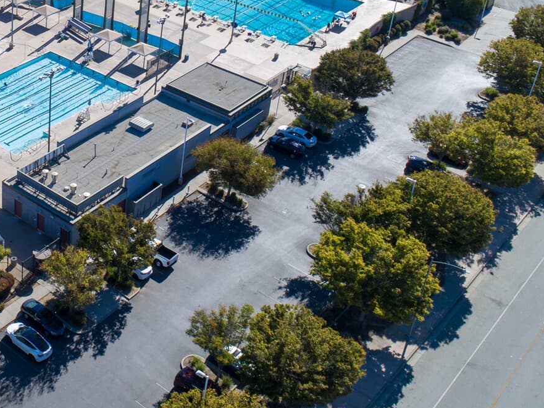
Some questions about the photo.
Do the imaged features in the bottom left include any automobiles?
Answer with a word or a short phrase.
Yes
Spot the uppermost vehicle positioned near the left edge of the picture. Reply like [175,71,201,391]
[22,296,71,333]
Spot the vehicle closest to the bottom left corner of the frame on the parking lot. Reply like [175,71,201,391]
[5,318,56,357]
